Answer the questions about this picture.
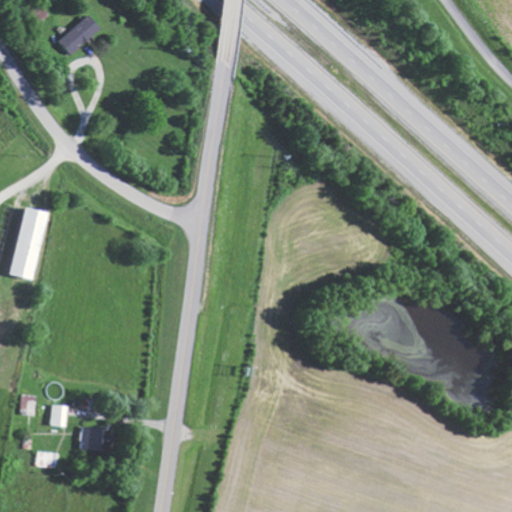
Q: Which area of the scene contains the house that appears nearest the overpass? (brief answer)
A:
top left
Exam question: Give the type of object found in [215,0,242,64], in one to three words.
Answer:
overpass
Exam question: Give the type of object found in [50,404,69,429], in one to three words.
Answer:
building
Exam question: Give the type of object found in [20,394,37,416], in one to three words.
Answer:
shed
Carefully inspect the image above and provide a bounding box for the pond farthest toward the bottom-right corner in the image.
[348,296,502,406]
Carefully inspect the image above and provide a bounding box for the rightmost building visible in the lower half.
[76,426,109,451]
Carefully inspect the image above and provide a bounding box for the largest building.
[10,207,50,282]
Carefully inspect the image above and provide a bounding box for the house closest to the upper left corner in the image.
[60,16,98,54]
